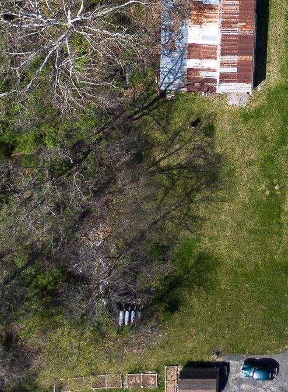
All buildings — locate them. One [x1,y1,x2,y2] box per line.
[177,370,219,392]
[159,0,259,95]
